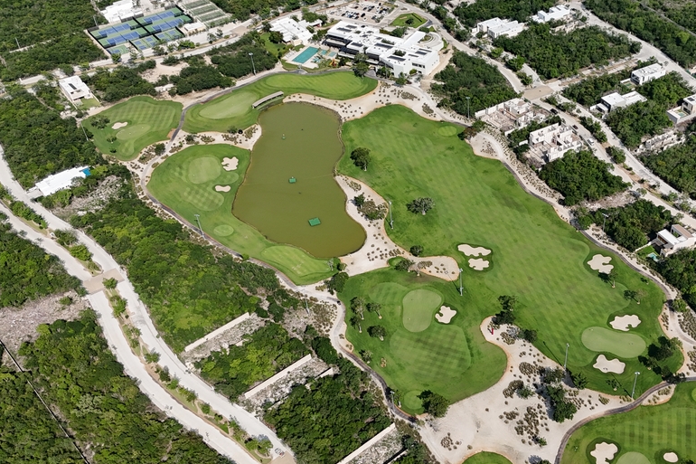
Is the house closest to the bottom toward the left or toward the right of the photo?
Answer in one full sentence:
The house closest to the bottom appears in the right half of the scene.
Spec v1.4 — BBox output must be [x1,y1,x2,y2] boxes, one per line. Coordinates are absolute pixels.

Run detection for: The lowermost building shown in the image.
[635,222,696,257]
